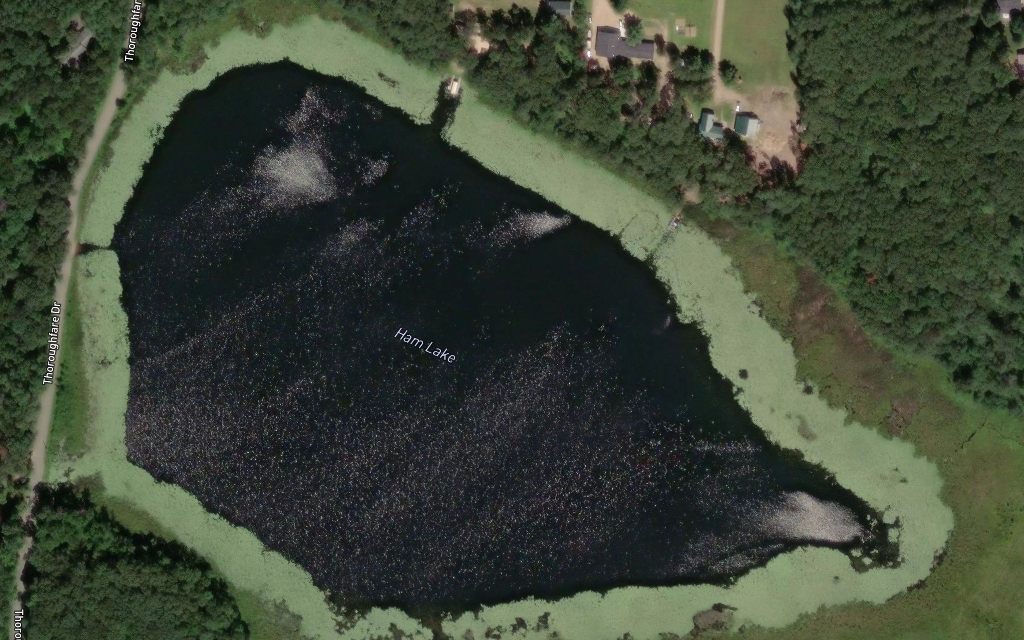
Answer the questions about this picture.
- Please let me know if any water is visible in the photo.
Yes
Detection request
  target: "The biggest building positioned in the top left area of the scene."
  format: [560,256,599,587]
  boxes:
[68,30,94,62]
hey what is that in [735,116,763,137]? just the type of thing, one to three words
barn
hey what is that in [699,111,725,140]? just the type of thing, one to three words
house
